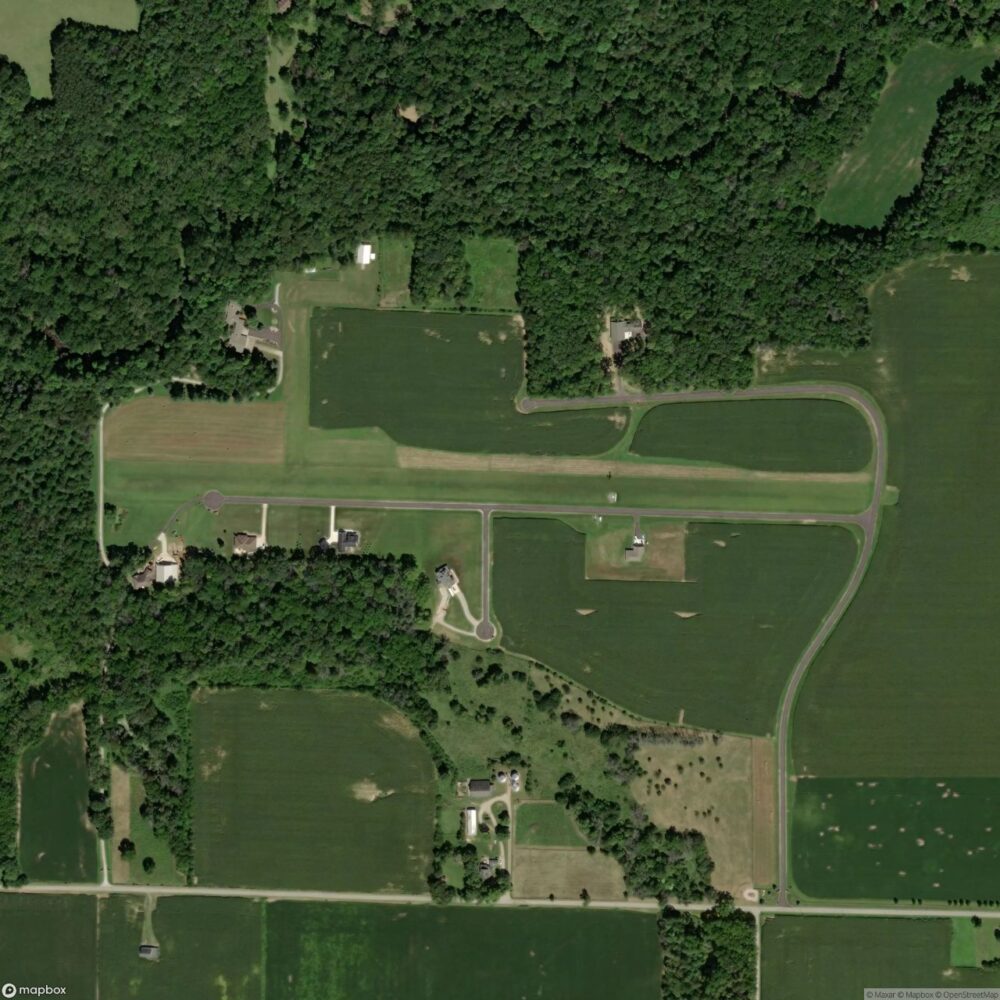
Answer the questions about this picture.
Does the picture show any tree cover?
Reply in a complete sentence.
Yes, the picture does contain tree cover.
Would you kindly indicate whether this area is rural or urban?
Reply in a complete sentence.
It looks rural.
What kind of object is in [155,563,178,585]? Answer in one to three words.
hangar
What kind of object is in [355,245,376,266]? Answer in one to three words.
barn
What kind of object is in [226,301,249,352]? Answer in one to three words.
house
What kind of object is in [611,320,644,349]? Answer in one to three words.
hangar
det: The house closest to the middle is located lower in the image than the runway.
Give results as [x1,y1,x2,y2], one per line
[435,565,458,591]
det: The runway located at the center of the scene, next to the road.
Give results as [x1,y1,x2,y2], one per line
[104,302,866,512]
